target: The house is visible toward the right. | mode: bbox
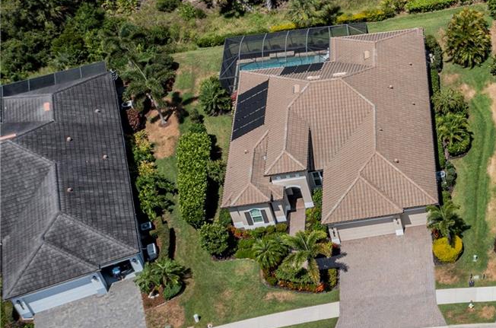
[221,25,440,242]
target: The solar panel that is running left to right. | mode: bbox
[280,63,324,76]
